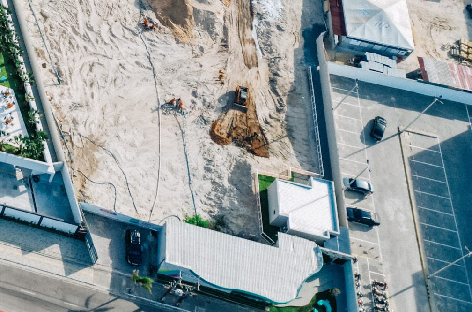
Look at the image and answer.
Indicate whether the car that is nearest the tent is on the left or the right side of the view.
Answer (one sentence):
The car that is nearest the tent sits on the right side.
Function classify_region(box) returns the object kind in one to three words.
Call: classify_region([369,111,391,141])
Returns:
car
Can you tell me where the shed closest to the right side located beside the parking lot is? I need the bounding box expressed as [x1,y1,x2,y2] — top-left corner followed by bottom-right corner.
[409,57,472,101]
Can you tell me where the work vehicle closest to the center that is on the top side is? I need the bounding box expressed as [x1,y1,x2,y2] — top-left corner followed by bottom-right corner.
[233,84,252,113]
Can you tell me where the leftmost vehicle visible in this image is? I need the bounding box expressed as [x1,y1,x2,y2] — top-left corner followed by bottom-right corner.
[128,224,144,267]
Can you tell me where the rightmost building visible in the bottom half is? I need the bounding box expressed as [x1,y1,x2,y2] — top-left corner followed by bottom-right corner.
[255,177,340,247]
